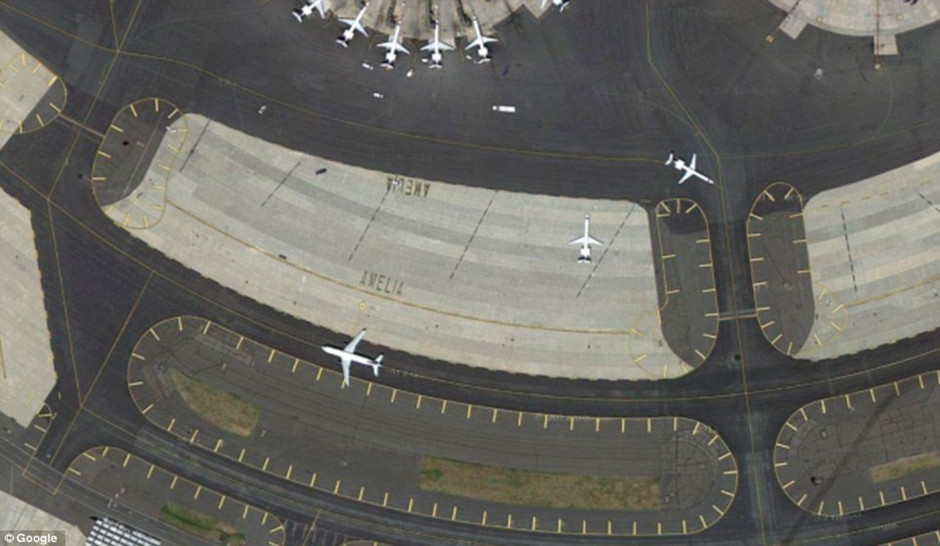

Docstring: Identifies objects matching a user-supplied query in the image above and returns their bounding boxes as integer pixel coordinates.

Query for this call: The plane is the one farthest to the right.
[667,152,713,184]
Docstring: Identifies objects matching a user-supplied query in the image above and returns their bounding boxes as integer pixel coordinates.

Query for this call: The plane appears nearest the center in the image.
[568,215,603,263]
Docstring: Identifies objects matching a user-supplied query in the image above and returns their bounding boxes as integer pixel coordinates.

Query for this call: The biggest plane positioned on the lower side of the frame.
[322,329,382,387]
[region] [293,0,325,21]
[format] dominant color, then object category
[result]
white airplane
